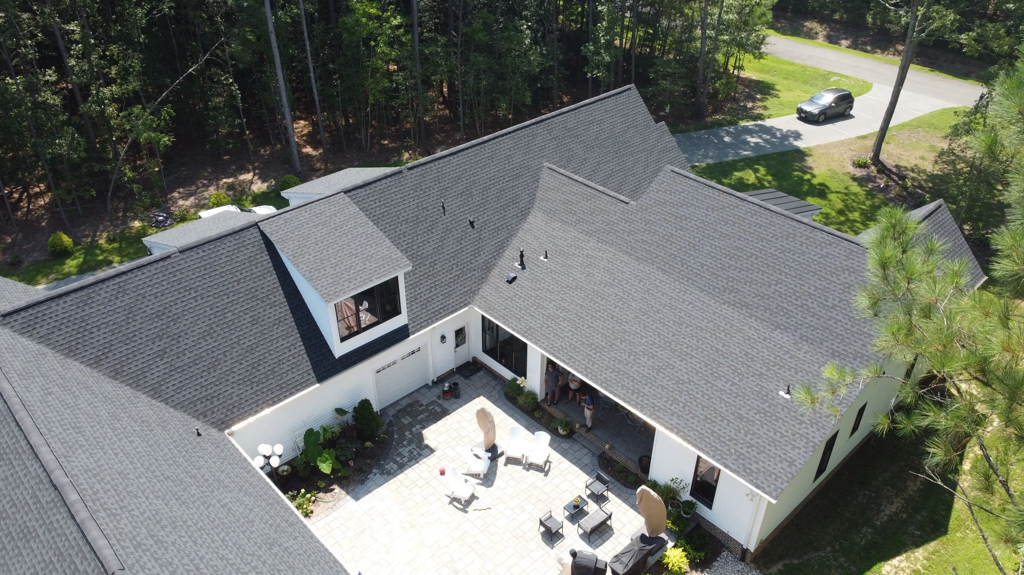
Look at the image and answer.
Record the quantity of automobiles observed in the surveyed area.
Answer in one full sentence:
The number of automobiles here is 2.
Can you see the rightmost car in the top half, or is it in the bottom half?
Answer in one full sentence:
The rightmost car sits in the top half of the picture.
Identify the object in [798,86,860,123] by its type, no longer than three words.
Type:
car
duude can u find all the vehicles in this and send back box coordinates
[798,86,860,123]
[191,202,280,222]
